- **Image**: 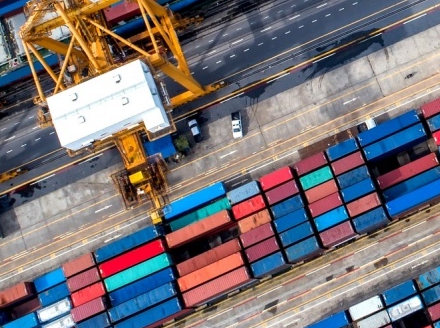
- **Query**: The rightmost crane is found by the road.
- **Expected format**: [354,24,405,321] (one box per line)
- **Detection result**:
[9,0,224,222]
